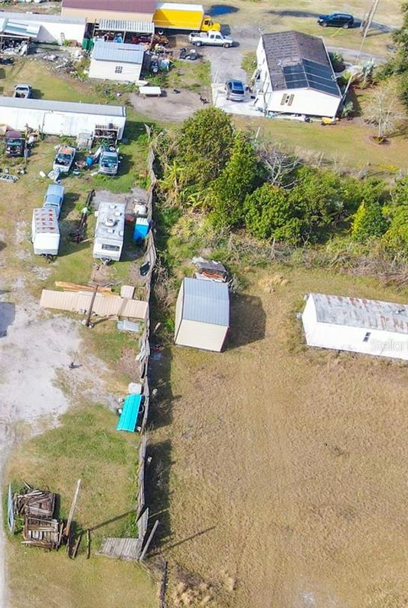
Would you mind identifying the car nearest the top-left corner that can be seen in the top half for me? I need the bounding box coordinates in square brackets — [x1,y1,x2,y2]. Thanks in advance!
[14,84,32,102]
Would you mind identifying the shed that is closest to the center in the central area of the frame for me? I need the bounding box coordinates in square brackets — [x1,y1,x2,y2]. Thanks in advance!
[173,284,235,351]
